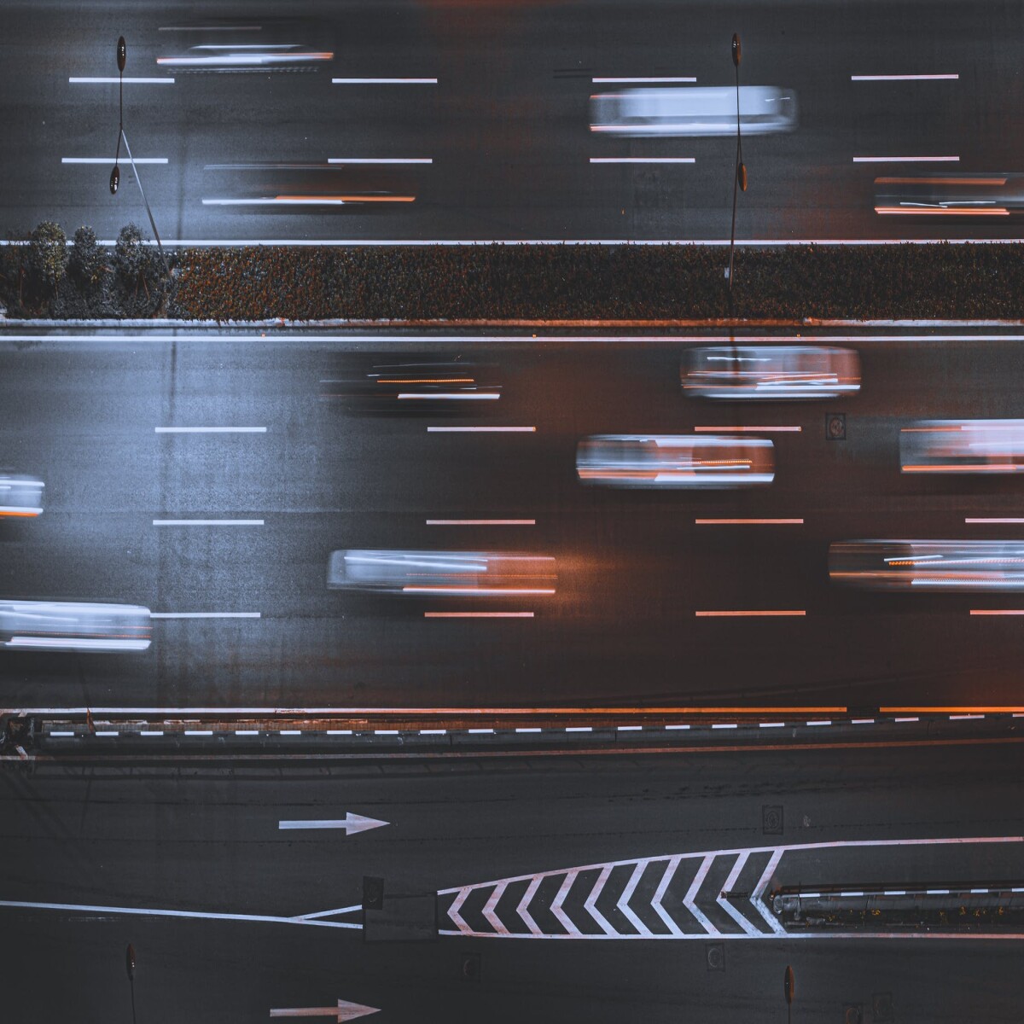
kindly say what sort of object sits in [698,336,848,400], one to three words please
car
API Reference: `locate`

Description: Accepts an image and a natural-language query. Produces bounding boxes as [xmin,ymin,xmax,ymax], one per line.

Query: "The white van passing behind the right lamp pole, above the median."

[608,72,778,138]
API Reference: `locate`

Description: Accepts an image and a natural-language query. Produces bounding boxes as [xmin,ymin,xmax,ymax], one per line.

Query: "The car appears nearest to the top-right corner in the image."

[877,162,1017,223]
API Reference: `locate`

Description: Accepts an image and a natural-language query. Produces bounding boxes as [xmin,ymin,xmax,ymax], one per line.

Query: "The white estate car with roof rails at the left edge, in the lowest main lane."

[0,591,149,656]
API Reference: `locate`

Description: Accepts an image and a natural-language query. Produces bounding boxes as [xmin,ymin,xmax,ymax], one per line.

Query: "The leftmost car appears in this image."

[0,469,40,523]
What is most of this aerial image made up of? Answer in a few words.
paved ground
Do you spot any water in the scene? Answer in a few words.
No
